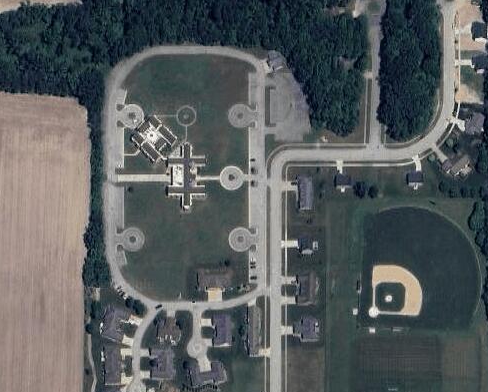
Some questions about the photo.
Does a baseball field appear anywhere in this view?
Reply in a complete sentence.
Yes, looking at the shot, I can spot a baseball field.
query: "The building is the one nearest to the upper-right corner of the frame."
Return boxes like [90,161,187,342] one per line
[471,22,488,42]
